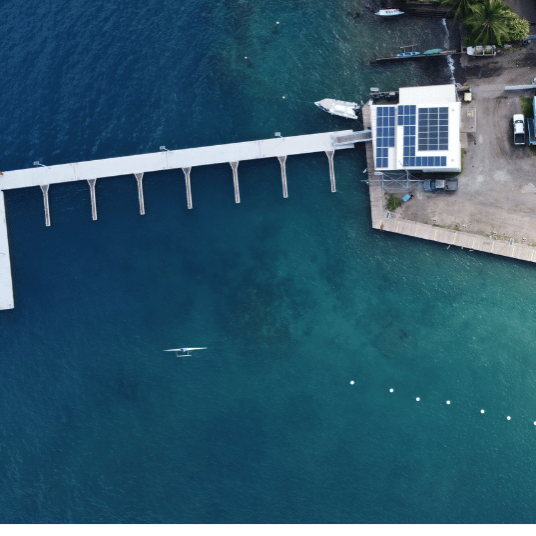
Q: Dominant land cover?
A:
water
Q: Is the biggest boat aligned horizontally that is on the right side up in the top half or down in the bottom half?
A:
top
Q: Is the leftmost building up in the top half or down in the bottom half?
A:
top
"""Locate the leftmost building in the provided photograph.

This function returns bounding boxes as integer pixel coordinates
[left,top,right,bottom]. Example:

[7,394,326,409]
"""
[372,85,462,176]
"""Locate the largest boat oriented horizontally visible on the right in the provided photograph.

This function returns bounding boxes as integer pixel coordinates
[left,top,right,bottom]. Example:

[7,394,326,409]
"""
[314,100,360,119]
